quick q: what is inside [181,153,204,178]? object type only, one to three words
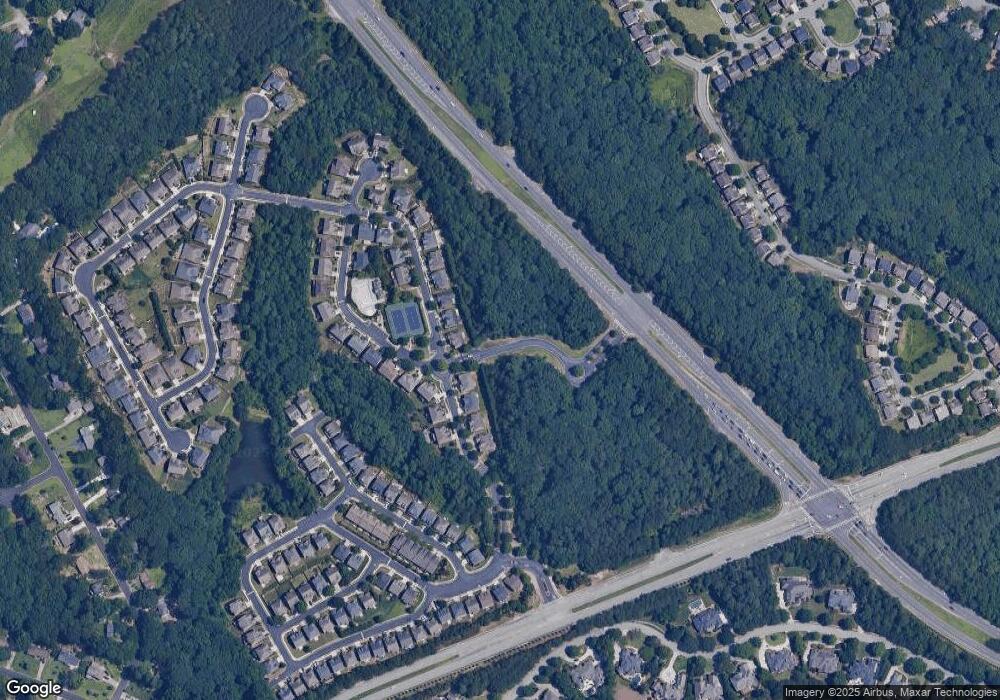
house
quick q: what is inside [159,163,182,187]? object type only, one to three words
house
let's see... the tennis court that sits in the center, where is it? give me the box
[386,302,425,339]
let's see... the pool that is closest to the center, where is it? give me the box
[352,276,381,316]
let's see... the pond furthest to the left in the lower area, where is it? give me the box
[227,420,282,498]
